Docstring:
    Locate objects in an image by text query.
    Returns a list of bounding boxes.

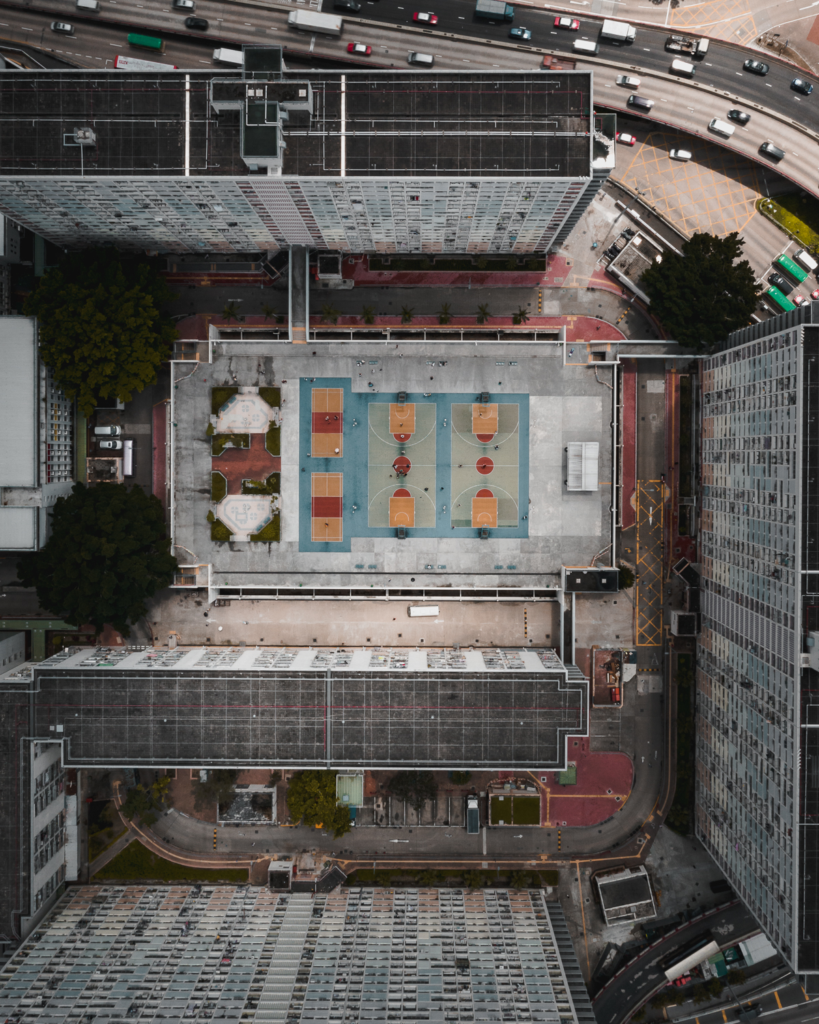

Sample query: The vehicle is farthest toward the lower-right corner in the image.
[737,1002,761,1020]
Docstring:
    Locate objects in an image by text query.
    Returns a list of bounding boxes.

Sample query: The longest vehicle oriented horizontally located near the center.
[406,604,439,617]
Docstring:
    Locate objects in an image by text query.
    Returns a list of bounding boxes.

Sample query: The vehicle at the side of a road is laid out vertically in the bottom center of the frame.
[467,795,480,837]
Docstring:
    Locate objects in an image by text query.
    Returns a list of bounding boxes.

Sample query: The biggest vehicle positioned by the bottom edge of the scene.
[659,933,718,981]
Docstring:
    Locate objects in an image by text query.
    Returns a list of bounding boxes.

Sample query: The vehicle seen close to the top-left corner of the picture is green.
[128,34,164,53]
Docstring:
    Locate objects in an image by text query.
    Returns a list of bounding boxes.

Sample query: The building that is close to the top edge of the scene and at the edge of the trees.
[0,46,614,252]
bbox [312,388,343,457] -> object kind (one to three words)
sports court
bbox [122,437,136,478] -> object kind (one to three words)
vehicle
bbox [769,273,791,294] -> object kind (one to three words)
car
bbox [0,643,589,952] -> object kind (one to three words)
building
